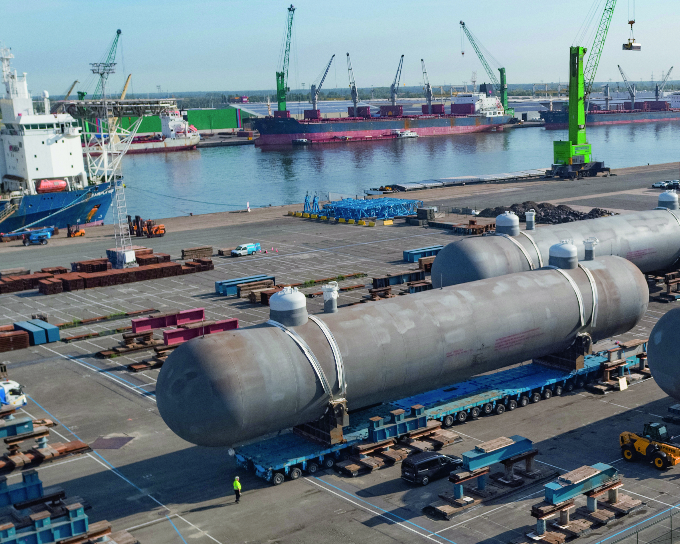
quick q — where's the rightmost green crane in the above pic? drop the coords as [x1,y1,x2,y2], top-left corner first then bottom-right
[541,0,634,179]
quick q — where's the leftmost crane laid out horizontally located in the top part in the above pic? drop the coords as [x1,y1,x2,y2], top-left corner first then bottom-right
[354,75,413,98]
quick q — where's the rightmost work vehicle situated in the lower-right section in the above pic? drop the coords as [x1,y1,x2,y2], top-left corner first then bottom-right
[616,421,680,472]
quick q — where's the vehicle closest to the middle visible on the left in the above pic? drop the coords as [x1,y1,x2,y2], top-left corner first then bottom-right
[229,241,265,256]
